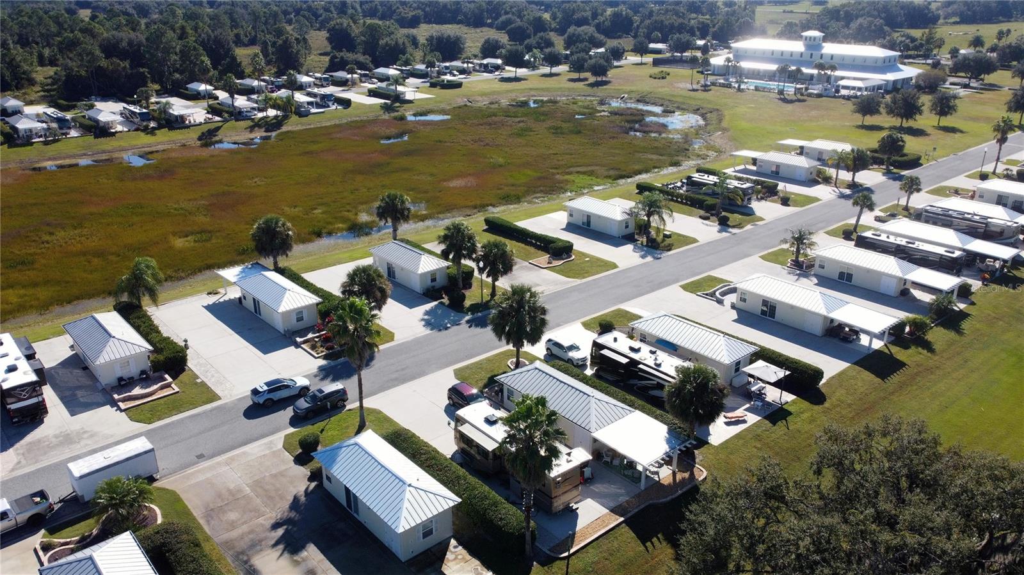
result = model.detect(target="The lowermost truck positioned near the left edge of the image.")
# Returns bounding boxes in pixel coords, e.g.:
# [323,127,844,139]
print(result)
[0,484,60,530]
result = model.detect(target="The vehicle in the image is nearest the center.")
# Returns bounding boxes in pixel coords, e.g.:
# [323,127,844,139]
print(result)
[542,330,590,365]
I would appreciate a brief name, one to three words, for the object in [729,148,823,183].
house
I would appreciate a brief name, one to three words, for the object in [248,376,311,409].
car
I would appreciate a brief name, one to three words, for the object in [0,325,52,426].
camper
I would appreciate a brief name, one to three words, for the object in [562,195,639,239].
house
